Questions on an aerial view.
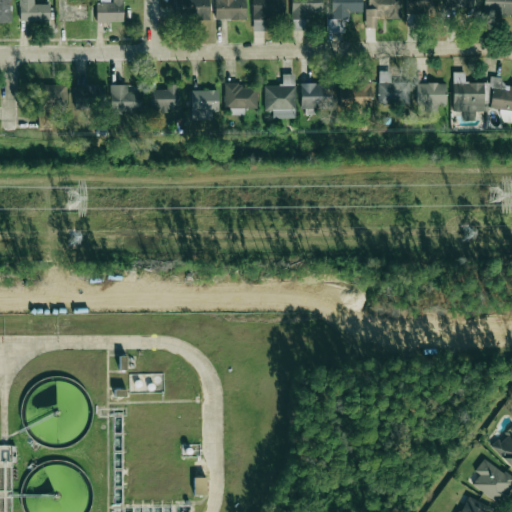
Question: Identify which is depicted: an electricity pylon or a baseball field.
electricity pylon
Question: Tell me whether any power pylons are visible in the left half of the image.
Yes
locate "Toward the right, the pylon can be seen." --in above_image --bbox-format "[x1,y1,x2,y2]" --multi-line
[485,176,512,214]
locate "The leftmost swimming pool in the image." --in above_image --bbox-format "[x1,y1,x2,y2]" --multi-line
[453,112,484,129]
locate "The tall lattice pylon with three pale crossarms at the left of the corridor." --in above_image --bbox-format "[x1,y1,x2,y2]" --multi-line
[64,178,84,217]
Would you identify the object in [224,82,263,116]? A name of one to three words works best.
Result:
house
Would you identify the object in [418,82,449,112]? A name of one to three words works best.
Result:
house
